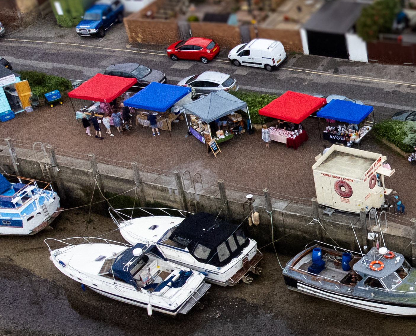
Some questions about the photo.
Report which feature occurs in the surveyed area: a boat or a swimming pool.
boat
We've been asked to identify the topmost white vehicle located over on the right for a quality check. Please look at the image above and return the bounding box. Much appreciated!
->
[226,37,291,71]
